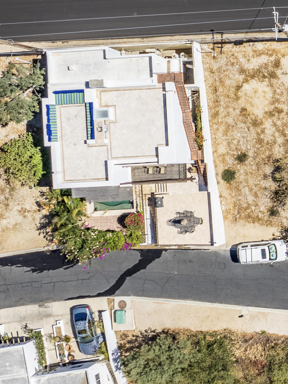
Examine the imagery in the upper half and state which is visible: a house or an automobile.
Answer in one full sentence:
There is a house in the upper half.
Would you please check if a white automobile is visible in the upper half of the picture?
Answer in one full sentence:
No, there is no white automobile in the upper half of the picture.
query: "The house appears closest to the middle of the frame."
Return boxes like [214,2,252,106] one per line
[41,47,208,203]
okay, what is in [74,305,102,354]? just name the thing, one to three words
car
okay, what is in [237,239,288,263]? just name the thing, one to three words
car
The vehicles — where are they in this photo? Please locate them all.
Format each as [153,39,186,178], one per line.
[237,239,288,263]
[74,305,102,354]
